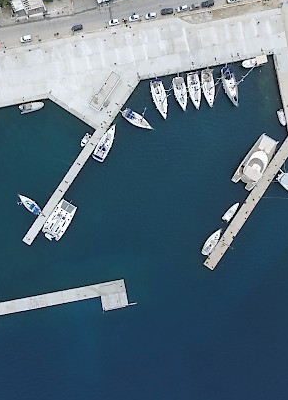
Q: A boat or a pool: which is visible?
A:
boat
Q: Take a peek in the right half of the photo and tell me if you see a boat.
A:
Yes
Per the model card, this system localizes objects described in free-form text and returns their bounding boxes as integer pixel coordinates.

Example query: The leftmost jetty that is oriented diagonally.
[22,127,108,245]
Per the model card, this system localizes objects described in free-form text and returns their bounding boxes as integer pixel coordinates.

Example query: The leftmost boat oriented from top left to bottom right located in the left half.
[18,195,44,215]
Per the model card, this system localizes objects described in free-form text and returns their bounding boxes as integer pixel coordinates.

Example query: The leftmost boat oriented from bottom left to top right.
[43,200,75,240]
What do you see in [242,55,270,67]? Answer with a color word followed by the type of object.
white boat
